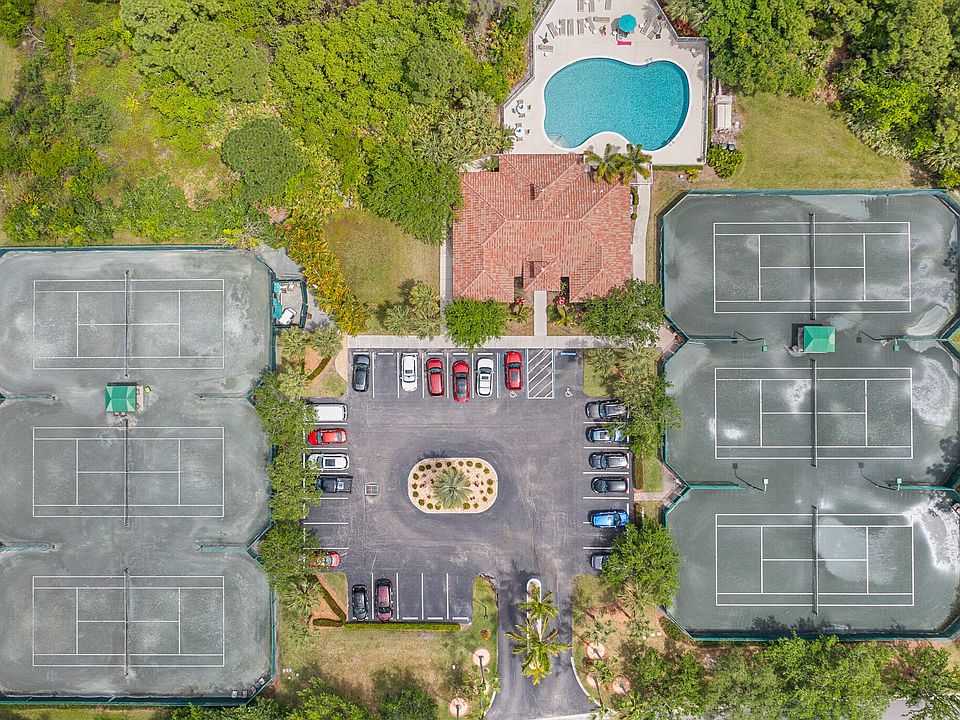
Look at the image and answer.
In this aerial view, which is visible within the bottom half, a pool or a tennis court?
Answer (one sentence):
Visible within the bottom half is a tennis court.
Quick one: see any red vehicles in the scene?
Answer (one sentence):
Yes, you can see a red vehicle in this photo.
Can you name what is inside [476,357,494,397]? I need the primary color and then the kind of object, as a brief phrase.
white car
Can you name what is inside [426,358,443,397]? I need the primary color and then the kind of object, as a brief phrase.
red car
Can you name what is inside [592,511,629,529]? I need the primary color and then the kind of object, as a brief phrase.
blue car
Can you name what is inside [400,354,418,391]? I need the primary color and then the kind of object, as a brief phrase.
white car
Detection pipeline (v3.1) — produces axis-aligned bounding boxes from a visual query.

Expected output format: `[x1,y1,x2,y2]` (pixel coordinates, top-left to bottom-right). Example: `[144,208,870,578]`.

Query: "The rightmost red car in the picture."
[504,352,522,390]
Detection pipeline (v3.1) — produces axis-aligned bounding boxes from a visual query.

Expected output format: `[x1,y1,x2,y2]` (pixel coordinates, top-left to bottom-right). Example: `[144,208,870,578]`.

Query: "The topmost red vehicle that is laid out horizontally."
[308,428,347,446]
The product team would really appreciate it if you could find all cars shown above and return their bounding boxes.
[374,578,393,620]
[426,358,443,397]
[592,511,629,529]
[351,583,368,621]
[476,357,494,397]
[585,401,627,419]
[452,361,470,401]
[308,453,350,471]
[588,452,628,470]
[585,426,623,443]
[504,352,522,390]
[590,476,628,494]
[308,428,347,446]
[303,550,340,569]
[400,354,418,391]
[352,354,369,391]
